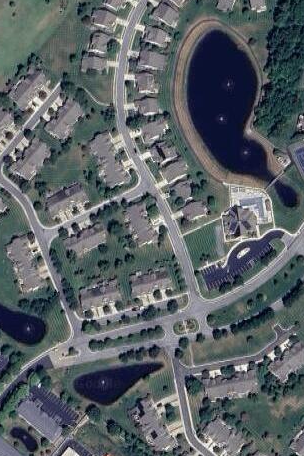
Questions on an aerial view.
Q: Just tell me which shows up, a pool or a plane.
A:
pool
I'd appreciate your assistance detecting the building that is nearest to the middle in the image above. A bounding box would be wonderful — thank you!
[120,204,157,252]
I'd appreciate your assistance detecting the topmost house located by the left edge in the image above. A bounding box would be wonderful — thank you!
[11,68,48,105]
